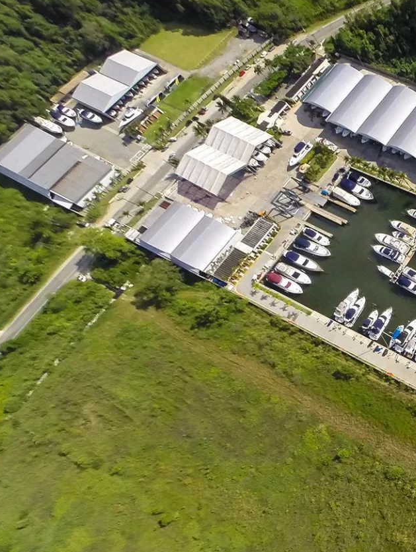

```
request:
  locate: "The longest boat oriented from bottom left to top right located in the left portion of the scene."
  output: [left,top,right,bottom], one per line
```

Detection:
[113,106,142,127]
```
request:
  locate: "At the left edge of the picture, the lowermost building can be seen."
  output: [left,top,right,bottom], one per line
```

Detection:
[0,126,126,217]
